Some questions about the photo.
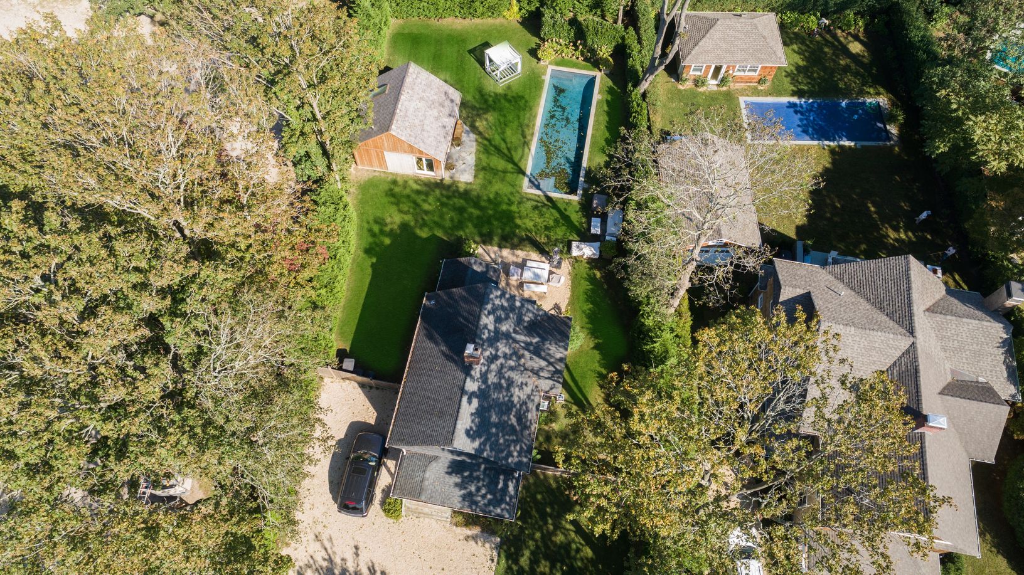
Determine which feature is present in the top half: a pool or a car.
pool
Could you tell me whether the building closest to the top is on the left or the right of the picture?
right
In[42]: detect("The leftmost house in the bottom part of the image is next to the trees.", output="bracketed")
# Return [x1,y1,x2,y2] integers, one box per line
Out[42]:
[386,257,572,522]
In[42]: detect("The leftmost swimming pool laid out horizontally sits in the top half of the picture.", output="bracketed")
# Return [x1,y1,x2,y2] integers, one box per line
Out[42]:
[739,96,899,145]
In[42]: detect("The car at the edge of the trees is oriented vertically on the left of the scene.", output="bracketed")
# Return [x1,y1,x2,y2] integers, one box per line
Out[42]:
[339,433,387,521]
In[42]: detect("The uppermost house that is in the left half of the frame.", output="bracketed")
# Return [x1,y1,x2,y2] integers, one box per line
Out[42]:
[353,61,463,178]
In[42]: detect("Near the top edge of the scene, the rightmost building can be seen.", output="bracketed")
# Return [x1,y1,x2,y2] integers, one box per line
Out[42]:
[675,11,787,94]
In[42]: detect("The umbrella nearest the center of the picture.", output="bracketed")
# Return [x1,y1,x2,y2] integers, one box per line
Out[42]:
[549,253,563,275]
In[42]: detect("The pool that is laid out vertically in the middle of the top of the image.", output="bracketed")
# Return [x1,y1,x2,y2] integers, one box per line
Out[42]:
[523,65,601,199]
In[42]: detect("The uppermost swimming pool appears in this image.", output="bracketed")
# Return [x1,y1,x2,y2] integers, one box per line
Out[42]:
[988,37,1024,70]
